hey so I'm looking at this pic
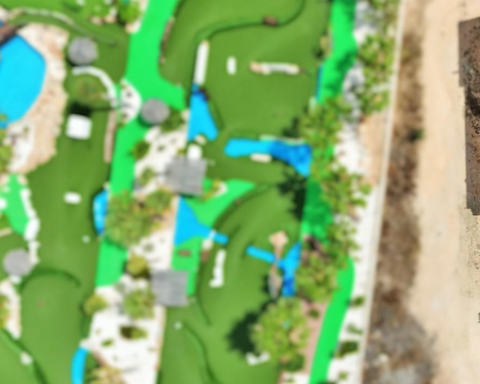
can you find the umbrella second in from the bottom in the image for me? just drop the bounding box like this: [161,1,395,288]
[143,99,171,126]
